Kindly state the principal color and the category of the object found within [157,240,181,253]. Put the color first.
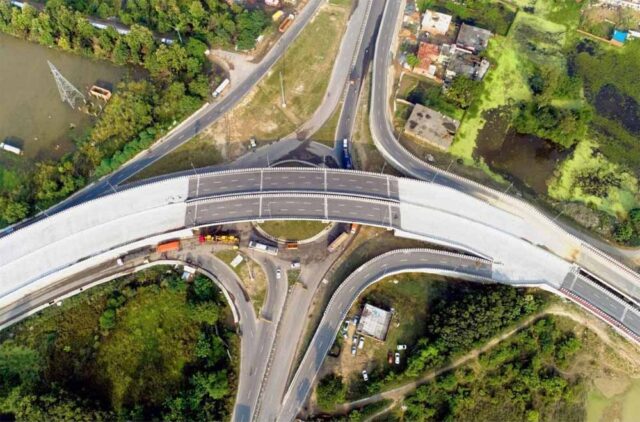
orange vehicle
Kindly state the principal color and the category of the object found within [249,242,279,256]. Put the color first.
white vehicle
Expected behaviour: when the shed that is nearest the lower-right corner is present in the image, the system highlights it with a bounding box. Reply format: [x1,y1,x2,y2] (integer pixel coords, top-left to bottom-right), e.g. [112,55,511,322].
[357,303,392,342]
